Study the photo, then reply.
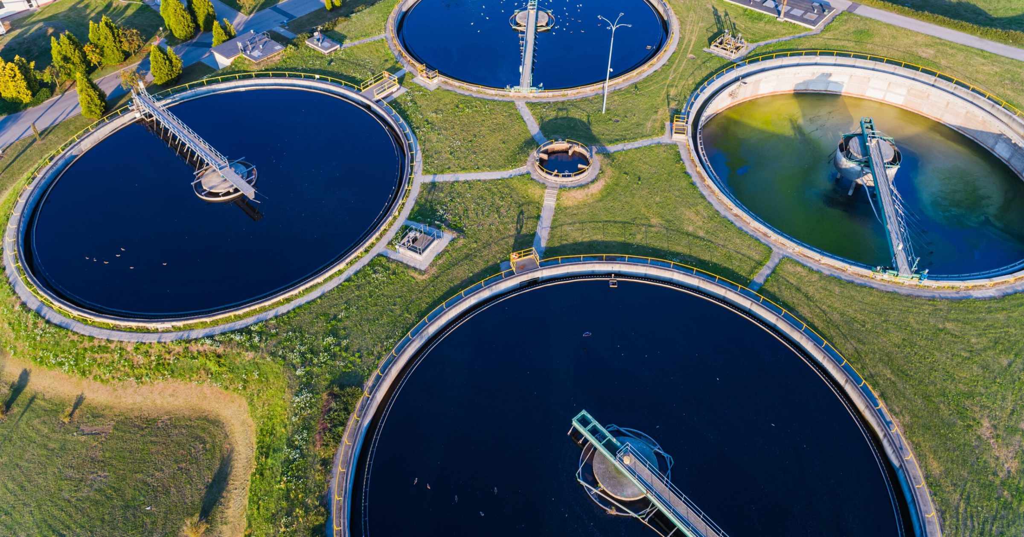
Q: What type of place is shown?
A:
industrial area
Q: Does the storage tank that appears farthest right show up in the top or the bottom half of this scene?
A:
top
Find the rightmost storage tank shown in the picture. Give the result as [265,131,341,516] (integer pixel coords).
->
[679,49,1024,290]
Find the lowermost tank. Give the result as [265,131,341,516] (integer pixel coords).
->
[330,252,947,537]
